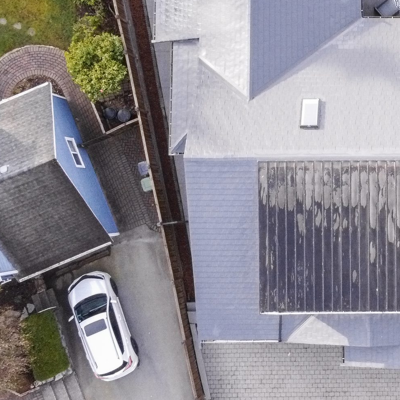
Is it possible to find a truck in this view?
No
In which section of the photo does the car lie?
bottom left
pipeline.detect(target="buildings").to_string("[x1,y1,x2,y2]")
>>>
[149,0,400,369]
[0,80,134,298]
